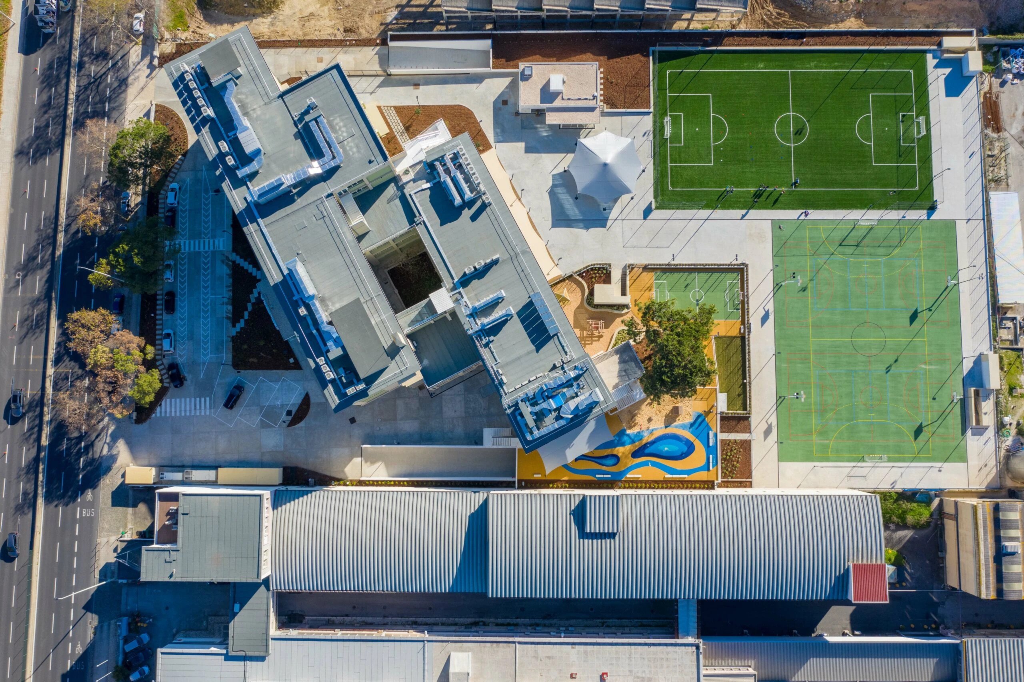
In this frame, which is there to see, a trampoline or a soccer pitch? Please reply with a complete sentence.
It is a soccer pitch that can be seen here.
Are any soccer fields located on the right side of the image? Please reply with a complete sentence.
Yes, a soccer field shows up on the right side of the image.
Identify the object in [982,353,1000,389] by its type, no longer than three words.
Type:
building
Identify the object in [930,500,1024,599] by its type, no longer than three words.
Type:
shed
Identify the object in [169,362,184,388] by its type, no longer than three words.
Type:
car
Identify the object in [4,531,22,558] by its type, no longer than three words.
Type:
vehicle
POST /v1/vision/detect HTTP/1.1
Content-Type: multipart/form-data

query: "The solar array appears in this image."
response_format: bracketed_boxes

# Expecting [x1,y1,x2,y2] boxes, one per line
[530,292,559,337]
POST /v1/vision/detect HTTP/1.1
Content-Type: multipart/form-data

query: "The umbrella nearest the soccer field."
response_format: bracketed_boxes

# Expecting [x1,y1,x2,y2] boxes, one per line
[553,287,570,302]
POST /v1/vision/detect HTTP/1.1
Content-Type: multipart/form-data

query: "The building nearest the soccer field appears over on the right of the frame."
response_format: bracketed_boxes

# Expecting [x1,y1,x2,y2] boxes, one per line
[939,36,976,50]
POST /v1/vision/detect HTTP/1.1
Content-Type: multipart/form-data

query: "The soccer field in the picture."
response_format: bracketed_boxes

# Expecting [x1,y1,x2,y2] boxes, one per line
[653,50,934,210]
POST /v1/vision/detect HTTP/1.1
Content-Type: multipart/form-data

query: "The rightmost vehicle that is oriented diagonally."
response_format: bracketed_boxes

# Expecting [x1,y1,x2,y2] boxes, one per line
[223,384,244,410]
